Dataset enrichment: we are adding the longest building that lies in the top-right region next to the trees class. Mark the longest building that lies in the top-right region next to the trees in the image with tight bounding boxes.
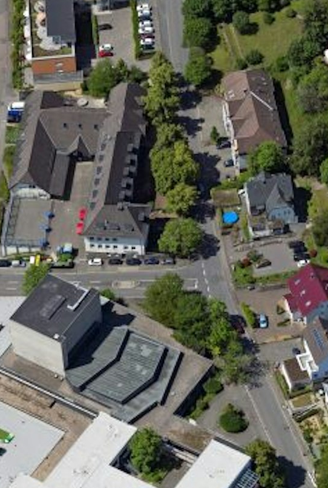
[226,70,287,176]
